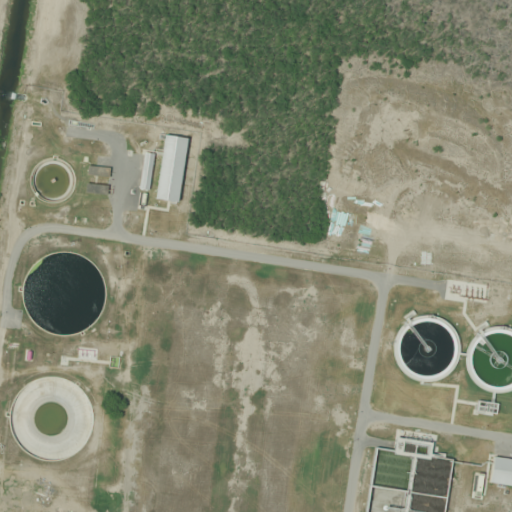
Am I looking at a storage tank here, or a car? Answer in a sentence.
Of the two, only a storage tank appears.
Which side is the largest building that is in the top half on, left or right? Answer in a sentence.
The largest building that is in the top half appears in the left half of the scene.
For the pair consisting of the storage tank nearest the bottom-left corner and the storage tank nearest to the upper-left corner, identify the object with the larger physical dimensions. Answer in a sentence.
The storage tank nearest the bottom-left corner takes up more space than the storage tank nearest to the upper-left corner does.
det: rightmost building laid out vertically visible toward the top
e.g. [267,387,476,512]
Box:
[157,134,189,202]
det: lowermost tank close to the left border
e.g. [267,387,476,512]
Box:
[6,375,96,462]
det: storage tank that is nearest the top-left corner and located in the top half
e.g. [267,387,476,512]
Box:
[29,155,76,204]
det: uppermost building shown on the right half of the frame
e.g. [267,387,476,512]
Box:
[445,280,490,303]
